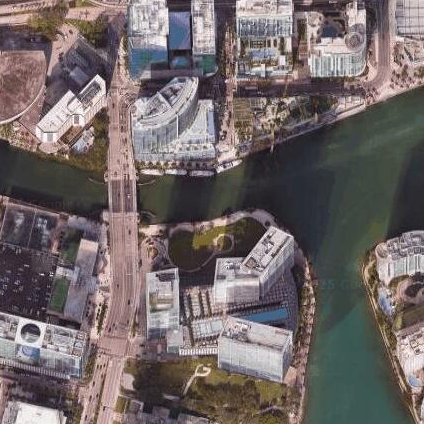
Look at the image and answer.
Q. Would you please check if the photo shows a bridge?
Yes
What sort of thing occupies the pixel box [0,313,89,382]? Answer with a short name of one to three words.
building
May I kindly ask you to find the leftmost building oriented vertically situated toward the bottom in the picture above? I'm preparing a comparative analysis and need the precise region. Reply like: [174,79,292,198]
[54,238,99,328]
